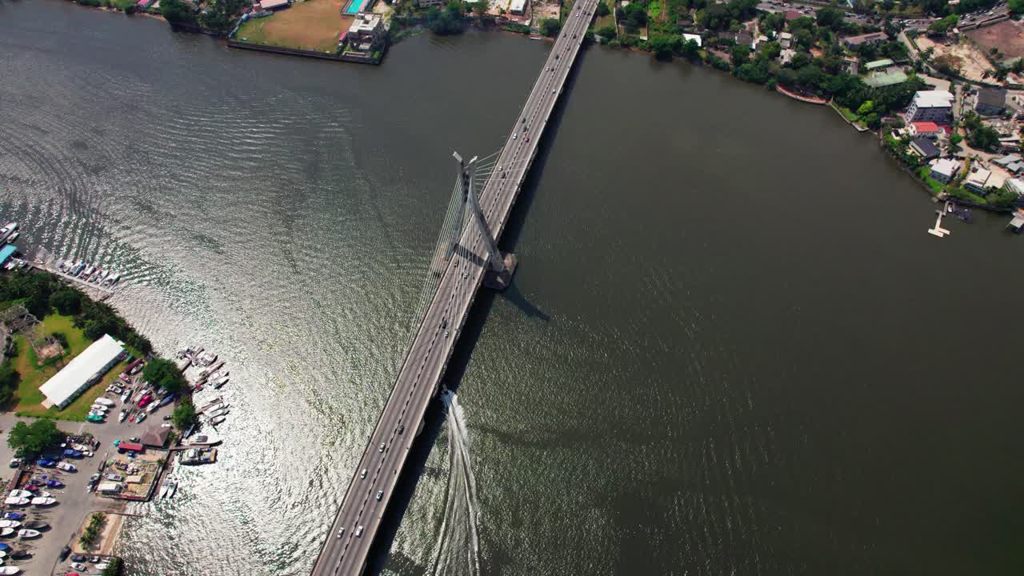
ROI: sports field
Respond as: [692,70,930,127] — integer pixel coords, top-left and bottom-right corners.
[231,0,352,57]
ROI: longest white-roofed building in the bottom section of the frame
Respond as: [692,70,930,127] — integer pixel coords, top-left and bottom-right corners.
[41,335,128,408]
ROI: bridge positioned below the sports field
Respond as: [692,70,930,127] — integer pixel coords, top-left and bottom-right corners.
[311,0,598,576]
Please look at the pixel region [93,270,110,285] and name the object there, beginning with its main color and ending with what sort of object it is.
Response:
white boat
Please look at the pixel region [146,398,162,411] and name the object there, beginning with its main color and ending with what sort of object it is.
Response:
white boat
